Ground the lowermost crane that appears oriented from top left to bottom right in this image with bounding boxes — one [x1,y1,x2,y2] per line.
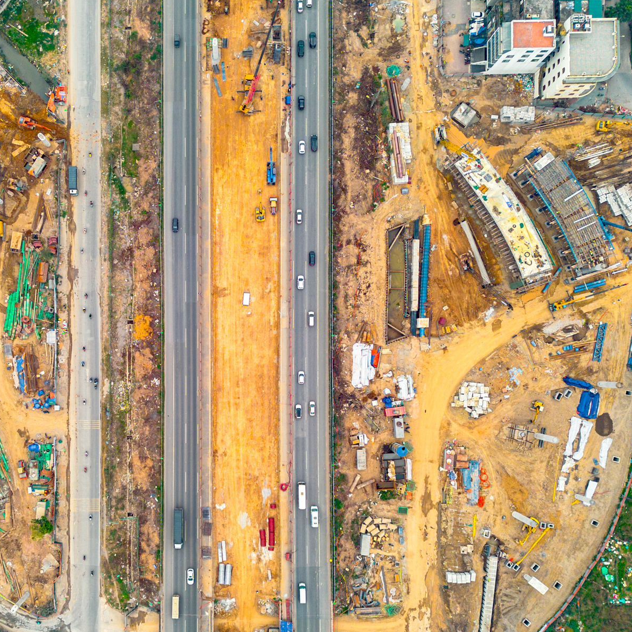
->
[454,253,514,311]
